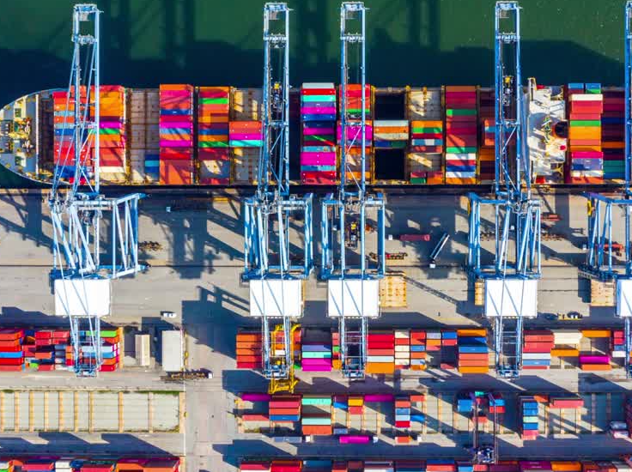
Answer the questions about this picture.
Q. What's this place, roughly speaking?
port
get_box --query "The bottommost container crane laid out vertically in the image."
[464,390,499,470]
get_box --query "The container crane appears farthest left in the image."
[45,3,158,380]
